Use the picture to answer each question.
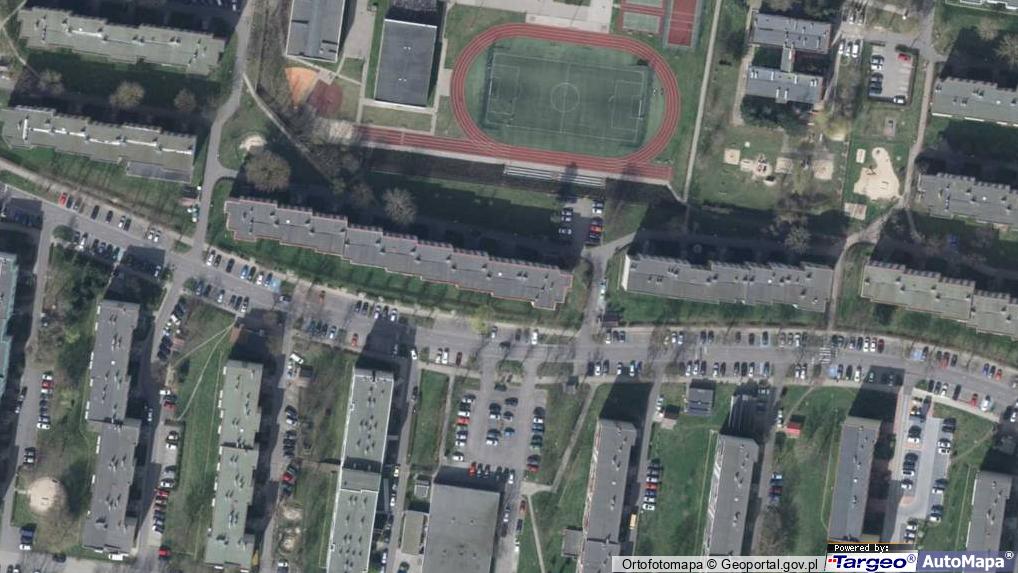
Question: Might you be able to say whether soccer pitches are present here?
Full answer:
Yes, the frame does contain a soccer pitch.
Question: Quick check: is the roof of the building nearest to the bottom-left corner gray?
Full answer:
Yes, gray is the color of the roof of the building nearest to the bottom-left corner.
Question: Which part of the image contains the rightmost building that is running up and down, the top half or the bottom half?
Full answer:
It is in the bottom half that the rightmost building that is running up and down appears.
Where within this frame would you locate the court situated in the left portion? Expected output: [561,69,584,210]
[308,79,342,112]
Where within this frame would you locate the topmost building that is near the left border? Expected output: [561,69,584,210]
[17,5,226,76]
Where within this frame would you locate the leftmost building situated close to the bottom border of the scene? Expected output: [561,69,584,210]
[84,421,141,554]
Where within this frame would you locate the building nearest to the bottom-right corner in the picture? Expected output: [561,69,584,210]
[961,472,1013,573]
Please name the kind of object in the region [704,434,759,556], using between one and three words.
building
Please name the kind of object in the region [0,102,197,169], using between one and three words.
building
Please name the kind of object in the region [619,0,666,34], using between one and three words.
basketball court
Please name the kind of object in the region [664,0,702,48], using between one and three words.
sports court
